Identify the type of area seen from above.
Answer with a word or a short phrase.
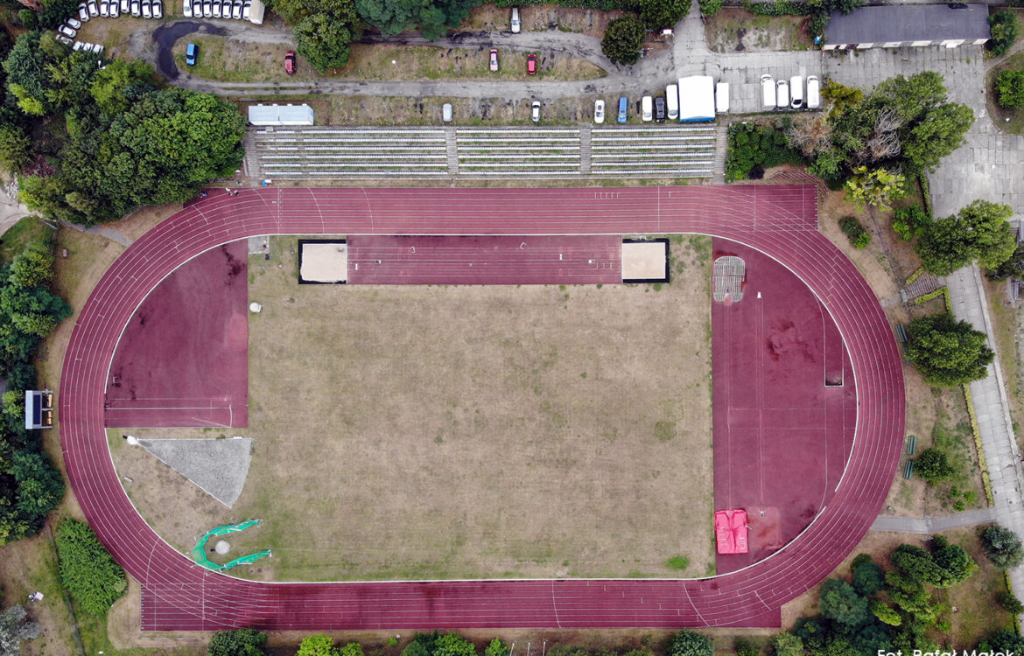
sports ground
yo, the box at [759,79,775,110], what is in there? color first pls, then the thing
white vehicle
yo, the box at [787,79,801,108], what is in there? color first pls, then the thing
white vehicle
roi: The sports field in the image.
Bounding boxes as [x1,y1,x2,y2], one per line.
[108,233,719,582]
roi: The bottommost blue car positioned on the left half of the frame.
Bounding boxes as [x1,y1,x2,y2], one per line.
[187,44,199,67]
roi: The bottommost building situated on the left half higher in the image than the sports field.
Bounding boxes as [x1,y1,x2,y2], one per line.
[249,105,313,123]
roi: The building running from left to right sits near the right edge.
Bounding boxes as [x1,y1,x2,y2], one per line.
[816,3,990,51]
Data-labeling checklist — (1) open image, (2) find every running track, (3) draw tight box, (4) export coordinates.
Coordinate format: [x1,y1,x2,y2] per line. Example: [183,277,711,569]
[59,182,906,632]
